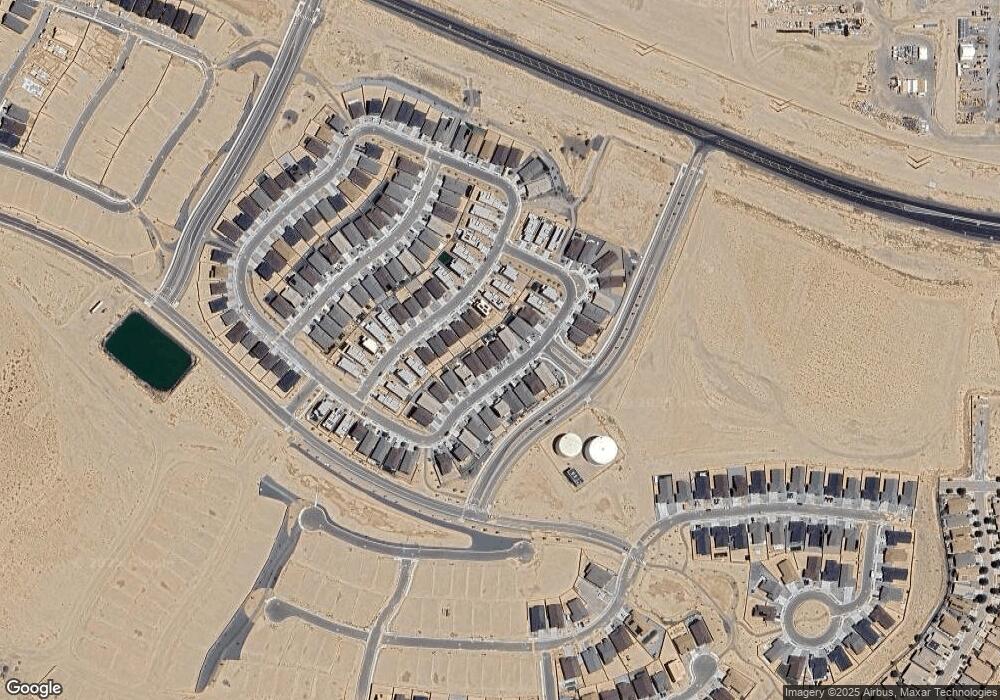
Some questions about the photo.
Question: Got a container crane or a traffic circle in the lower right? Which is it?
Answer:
traffic circle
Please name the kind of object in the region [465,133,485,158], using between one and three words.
house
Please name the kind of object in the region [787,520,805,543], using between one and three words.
house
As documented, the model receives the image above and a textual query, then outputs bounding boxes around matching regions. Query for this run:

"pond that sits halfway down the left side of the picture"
[100,305,197,395]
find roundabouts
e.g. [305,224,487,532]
[785,590,838,646]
